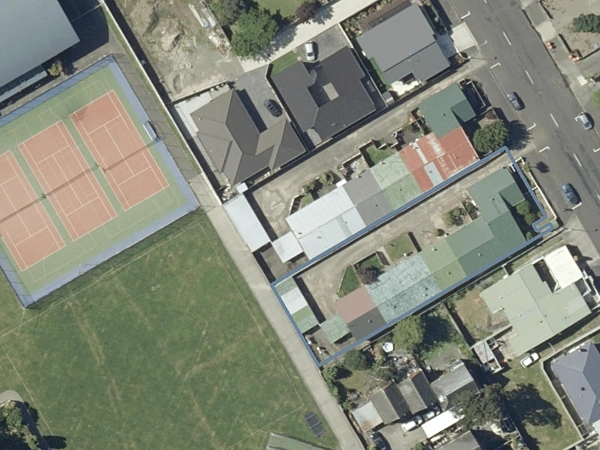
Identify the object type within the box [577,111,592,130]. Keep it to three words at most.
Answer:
car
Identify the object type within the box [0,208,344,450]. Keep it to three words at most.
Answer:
sports field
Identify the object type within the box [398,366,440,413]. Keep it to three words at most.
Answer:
house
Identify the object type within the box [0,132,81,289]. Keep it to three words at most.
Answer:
tennis court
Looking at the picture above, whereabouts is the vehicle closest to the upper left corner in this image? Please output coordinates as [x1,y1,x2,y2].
[265,97,281,118]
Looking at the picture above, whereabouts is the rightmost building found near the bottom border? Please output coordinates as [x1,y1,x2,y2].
[551,339,600,431]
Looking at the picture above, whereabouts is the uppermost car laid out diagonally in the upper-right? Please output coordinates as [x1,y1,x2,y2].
[507,90,524,111]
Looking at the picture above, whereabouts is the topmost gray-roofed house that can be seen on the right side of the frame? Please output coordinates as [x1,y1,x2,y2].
[357,4,450,85]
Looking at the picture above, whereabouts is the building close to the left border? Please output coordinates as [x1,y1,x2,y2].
[0,0,81,107]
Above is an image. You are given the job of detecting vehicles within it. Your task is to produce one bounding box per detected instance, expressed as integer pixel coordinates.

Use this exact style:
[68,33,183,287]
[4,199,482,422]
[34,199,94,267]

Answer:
[305,41,315,61]
[265,97,281,118]
[519,351,541,368]
[577,111,592,130]
[371,429,387,450]
[421,405,441,421]
[400,416,421,432]
[562,183,579,204]
[507,90,524,111]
